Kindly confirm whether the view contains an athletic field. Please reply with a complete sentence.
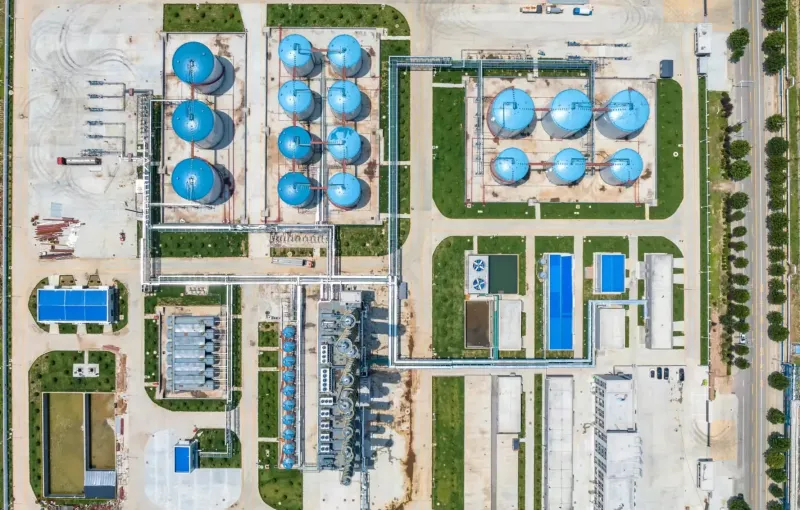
No, I find no athletic field anywhere in the image.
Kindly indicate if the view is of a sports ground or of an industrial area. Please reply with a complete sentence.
The area seen from above is an industrial area.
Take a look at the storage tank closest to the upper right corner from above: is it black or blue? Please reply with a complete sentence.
The color of the storage tank closest to the upper right corner is blue.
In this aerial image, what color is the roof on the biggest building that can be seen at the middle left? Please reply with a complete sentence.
The roof of the biggest building that can be seen at the middle left is blue.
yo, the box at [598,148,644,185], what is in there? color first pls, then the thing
blue storage tank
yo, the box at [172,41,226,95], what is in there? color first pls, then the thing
blue storage tank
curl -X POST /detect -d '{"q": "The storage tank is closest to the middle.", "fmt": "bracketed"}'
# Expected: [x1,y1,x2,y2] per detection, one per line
[327,172,363,209]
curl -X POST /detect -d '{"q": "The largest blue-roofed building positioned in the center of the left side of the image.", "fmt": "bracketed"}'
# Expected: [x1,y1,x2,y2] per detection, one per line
[38,284,120,322]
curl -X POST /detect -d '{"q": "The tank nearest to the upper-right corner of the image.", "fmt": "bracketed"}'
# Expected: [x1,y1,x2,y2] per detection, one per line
[595,88,650,138]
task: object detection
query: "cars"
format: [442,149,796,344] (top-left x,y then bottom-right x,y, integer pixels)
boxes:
[678,368,685,381]
[650,369,655,379]
[656,367,663,379]
[663,368,670,380]
[739,333,745,344]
